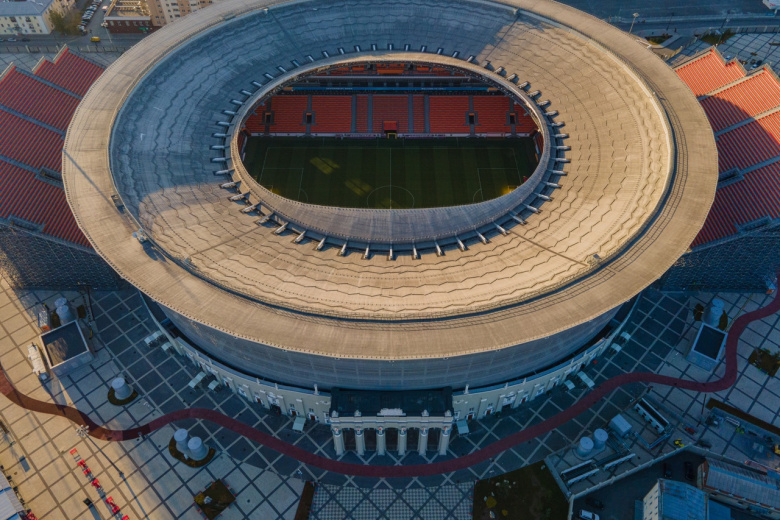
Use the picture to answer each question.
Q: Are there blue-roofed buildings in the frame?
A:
Yes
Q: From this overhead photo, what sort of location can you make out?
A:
sports ground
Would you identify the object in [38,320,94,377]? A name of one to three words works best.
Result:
building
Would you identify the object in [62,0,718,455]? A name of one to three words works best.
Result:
stadium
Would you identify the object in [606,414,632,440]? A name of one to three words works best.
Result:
shed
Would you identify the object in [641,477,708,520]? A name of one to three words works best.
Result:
house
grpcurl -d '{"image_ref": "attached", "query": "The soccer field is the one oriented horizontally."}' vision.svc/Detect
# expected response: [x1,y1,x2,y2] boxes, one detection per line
[245,142,535,252]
